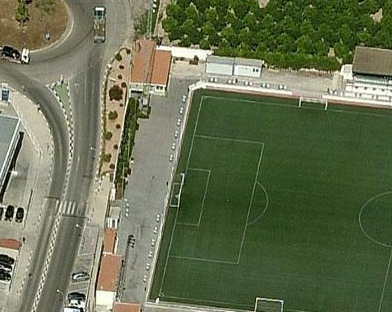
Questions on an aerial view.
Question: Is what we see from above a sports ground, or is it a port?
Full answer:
It's a sports ground.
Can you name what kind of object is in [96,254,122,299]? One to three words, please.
shed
